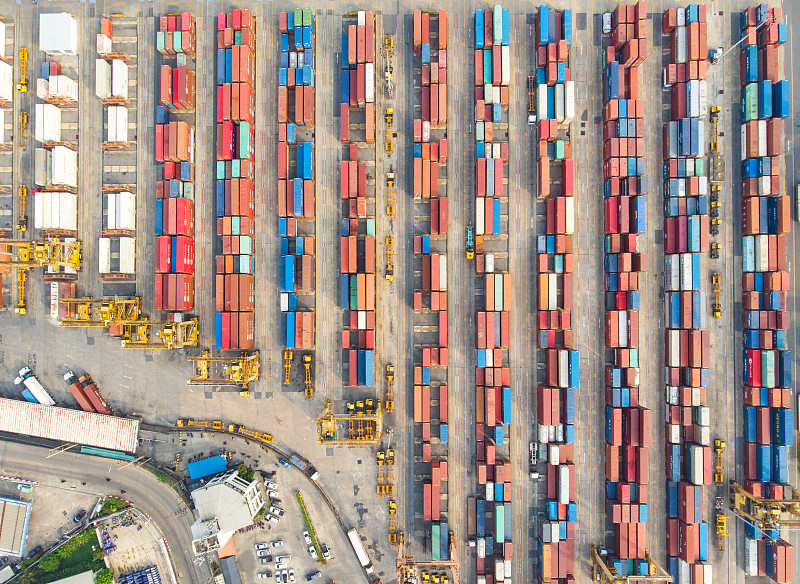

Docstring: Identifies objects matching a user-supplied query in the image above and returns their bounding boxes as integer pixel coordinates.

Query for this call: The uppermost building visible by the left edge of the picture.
[0,393,148,454]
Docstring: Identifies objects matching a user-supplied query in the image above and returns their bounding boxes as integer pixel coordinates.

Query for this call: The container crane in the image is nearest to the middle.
[315,399,384,447]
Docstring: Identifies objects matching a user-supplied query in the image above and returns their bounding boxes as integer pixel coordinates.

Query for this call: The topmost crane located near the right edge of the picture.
[727,472,800,529]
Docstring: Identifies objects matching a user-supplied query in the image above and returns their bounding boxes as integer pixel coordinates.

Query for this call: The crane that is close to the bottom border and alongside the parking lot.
[393,530,459,584]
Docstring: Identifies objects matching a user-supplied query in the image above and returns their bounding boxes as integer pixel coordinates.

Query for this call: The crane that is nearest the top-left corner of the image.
[0,237,83,276]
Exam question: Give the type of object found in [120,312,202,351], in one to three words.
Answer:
container crane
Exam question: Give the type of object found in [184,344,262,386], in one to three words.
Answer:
container crane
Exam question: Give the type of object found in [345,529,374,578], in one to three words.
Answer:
truck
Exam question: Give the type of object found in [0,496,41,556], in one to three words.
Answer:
building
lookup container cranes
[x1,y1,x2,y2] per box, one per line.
[588,543,673,584]
[393,530,459,584]
[57,291,142,329]
[184,344,262,386]
[315,399,384,447]
[120,312,202,351]
[727,472,800,529]
[0,237,83,276]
